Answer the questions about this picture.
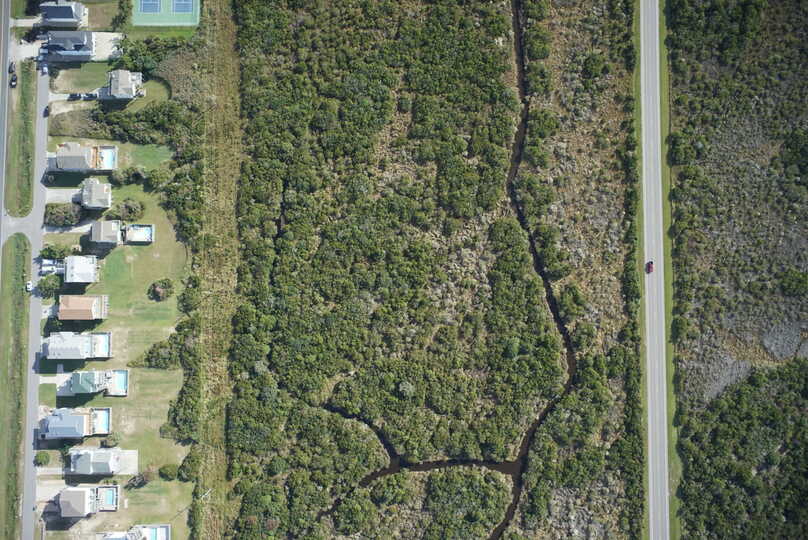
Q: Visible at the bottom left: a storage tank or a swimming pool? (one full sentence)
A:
What appears at the bottom left is a swimming pool.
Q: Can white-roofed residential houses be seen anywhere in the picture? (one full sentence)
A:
Yes, this view includes a white-roofed residential house.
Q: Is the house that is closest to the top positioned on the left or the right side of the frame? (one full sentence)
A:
You can find the house that is closest to the top on the left side of the picture.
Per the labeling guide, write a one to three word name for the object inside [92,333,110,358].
swimming pool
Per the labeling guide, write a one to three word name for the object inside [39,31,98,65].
house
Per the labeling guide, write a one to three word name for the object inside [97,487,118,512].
swimming pool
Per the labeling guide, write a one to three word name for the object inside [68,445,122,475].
house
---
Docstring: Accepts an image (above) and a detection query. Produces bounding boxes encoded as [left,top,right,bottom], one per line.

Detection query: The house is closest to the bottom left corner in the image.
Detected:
[58,485,99,518]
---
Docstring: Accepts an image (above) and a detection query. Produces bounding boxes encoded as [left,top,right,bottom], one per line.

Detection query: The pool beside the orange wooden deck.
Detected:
[97,146,118,169]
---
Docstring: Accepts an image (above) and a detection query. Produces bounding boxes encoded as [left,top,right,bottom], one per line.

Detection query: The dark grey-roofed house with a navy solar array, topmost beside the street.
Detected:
[39,0,88,31]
